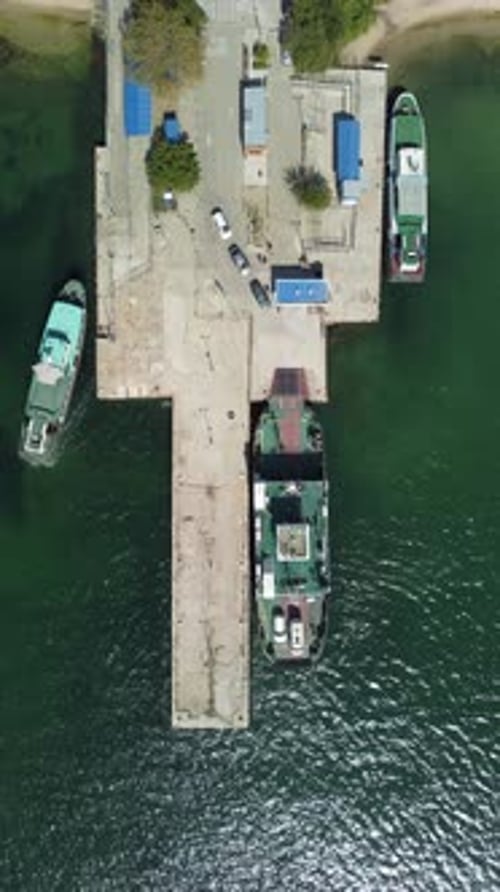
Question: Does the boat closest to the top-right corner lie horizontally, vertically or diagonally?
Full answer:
From this overhead view, the boat closest to the top-right corner appears to run vertically.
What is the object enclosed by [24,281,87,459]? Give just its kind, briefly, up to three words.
boat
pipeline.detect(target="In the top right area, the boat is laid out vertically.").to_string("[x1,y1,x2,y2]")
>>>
[388,91,425,283]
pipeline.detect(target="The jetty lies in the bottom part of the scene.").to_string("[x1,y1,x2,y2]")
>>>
[172,398,250,728]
